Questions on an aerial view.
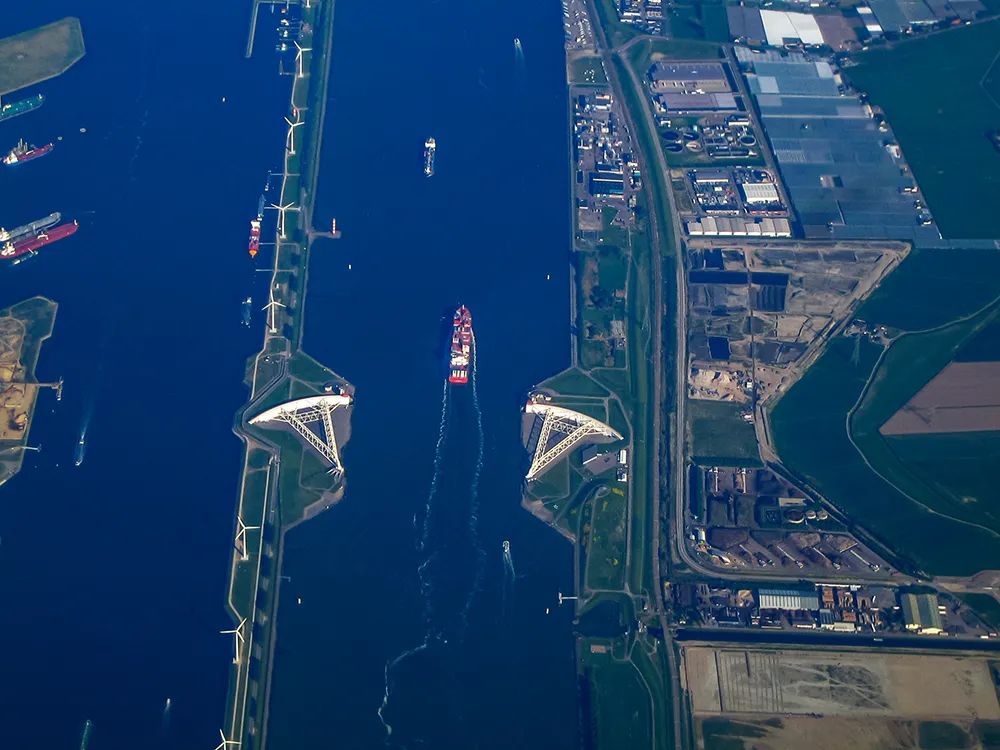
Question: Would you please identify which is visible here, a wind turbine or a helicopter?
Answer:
wind turbine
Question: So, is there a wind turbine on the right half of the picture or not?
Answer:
No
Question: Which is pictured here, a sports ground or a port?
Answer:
port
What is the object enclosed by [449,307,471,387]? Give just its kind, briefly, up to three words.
ship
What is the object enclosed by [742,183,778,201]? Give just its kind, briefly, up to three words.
building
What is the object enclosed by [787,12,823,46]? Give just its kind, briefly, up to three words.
greenhouse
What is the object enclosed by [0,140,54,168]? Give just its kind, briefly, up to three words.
ship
